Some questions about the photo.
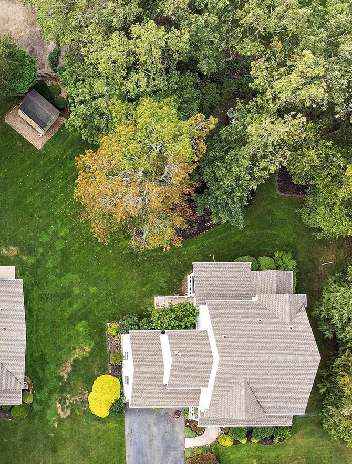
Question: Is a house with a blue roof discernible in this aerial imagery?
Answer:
No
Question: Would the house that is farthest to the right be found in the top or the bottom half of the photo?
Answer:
bottom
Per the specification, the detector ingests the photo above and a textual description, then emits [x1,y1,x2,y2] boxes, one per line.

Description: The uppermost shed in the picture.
[19,90,63,133]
